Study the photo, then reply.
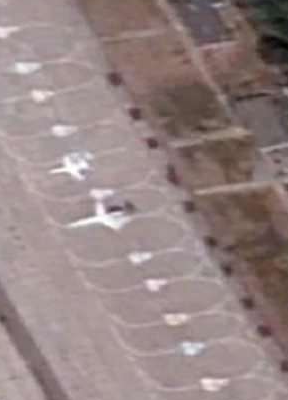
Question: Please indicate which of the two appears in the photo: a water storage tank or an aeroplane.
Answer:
aeroplane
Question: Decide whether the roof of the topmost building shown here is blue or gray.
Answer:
gray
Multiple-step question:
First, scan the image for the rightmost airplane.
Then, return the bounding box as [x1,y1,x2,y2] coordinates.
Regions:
[198,378,228,391]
